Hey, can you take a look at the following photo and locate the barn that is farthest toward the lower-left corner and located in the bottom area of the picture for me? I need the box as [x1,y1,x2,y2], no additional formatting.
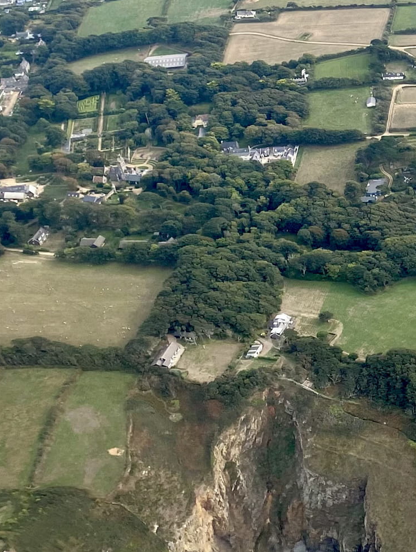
[156,334,185,367]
